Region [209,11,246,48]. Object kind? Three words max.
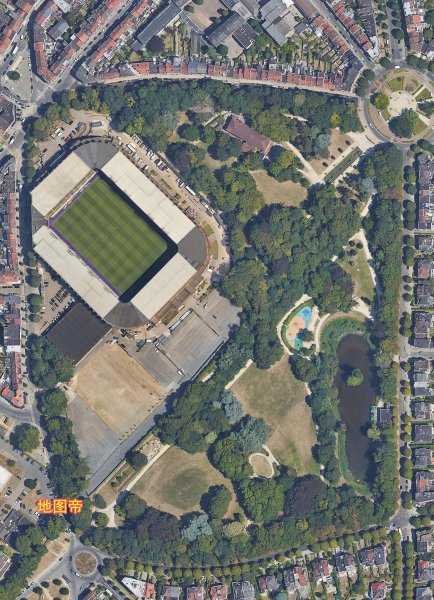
building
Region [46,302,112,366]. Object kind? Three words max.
building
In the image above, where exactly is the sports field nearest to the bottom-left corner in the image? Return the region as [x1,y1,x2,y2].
[75,342,166,440]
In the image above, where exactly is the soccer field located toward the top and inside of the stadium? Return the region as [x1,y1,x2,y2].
[46,175,170,296]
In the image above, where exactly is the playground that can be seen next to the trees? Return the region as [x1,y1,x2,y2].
[285,307,312,349]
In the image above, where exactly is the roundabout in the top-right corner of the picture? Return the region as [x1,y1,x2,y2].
[360,60,434,149]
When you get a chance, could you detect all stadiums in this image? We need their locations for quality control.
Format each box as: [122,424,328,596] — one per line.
[30,135,210,331]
